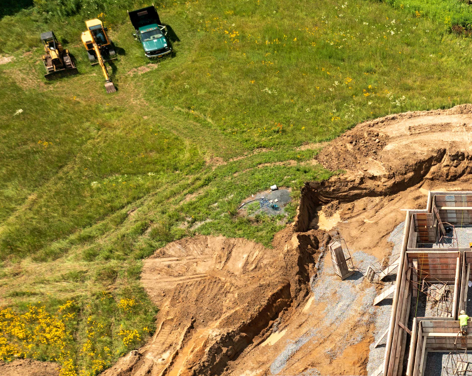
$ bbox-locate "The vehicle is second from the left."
[80,18,119,89]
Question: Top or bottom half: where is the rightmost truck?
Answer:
top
